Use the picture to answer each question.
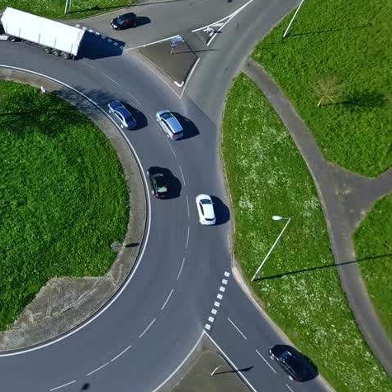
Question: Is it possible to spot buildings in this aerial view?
No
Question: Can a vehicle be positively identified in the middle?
Yes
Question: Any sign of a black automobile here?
Yes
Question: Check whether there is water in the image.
No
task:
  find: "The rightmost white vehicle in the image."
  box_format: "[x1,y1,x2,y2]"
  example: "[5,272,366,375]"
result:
[196,194,216,226]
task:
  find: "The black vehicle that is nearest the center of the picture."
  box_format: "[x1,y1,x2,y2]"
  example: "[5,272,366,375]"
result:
[149,167,171,199]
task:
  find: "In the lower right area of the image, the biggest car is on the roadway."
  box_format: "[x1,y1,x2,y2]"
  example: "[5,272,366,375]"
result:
[269,344,309,382]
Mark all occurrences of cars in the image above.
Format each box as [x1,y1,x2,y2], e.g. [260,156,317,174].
[149,167,171,199]
[109,100,137,130]
[158,110,184,140]
[269,344,309,382]
[196,194,216,226]
[109,10,139,30]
